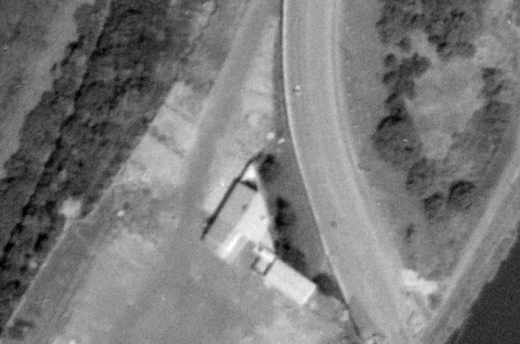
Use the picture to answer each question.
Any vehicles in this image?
No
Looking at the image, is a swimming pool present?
No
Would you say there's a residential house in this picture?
Yes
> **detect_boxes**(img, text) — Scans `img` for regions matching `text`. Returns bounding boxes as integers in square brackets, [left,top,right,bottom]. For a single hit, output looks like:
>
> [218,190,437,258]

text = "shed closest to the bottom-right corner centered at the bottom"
[264,258,315,304]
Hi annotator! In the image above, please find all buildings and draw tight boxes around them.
[264,258,315,304]
[203,182,268,263]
